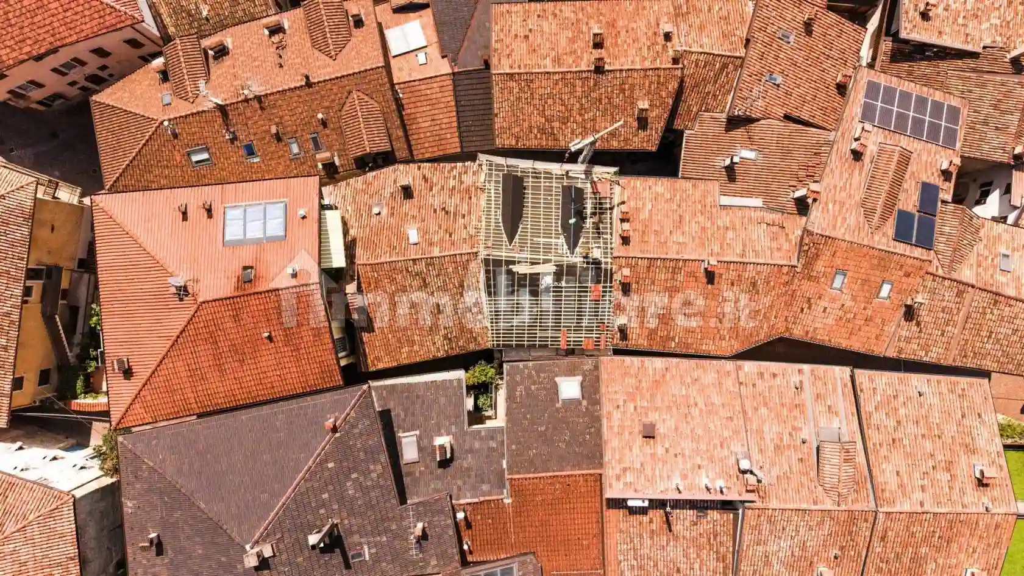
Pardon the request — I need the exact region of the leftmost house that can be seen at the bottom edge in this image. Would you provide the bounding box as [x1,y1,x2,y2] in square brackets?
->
[0,440,124,576]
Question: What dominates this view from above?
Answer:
buildings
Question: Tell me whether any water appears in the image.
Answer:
No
